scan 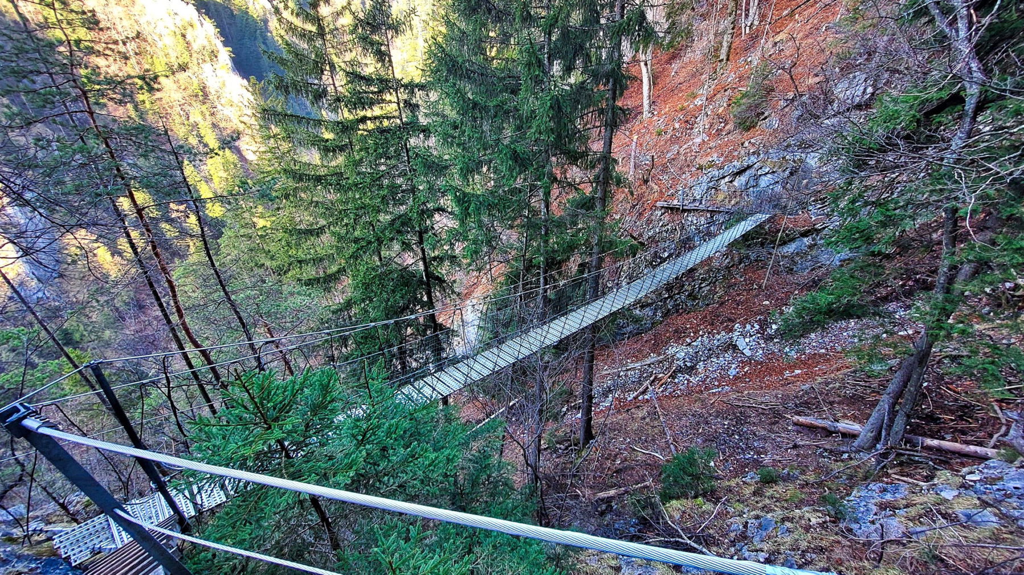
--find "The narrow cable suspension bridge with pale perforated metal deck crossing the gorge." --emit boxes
[0,169,807,517]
